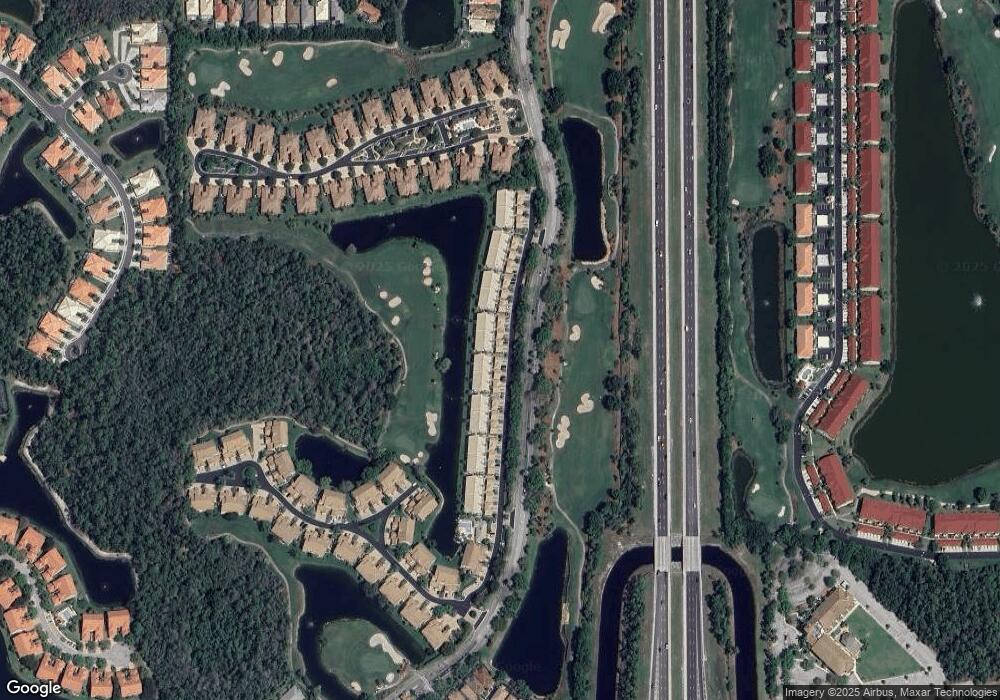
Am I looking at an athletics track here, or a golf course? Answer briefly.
golf course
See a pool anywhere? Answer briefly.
Yes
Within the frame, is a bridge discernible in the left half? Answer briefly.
No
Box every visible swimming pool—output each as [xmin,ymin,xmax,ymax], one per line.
[796,363,816,385]
[58,604,76,622]
[459,517,473,537]
[454,117,478,131]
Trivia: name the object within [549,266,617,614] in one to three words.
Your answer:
golf course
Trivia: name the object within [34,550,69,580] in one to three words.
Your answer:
house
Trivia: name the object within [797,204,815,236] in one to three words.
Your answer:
building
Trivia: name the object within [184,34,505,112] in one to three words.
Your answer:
golf course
